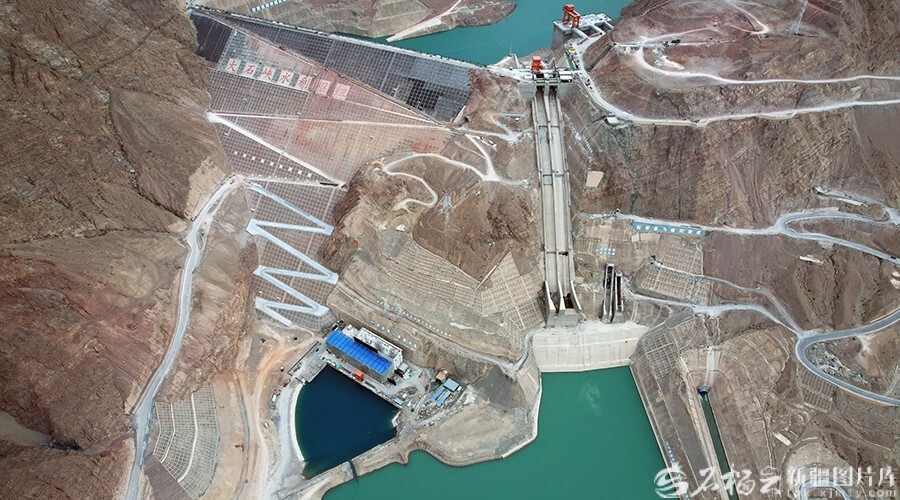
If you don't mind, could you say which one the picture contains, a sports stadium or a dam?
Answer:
dam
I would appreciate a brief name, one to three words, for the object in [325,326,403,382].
building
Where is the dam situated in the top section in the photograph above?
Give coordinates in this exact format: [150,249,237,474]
[186,4,530,334]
